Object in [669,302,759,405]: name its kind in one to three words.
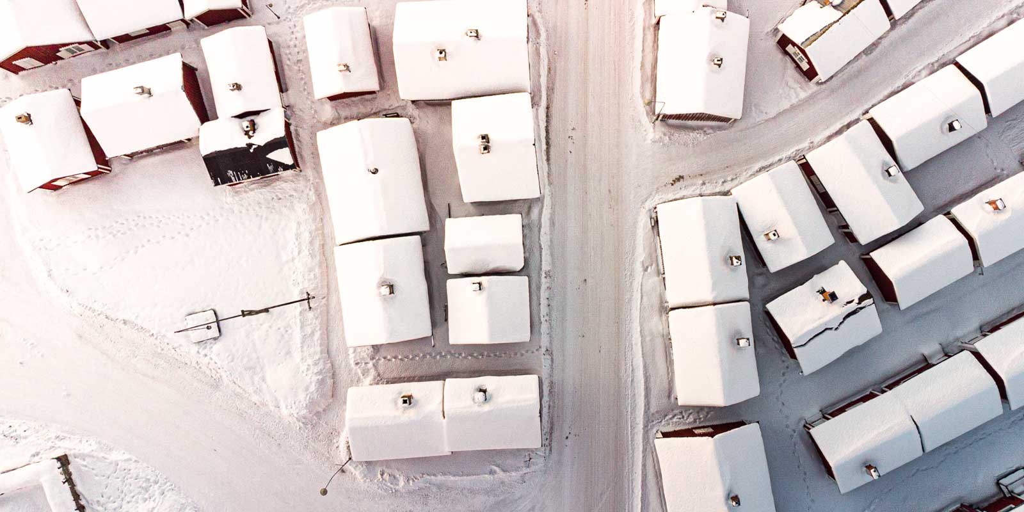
building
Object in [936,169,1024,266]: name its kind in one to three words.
building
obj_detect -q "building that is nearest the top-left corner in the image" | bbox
[0,0,108,73]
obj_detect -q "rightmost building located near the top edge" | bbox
[954,20,1024,117]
